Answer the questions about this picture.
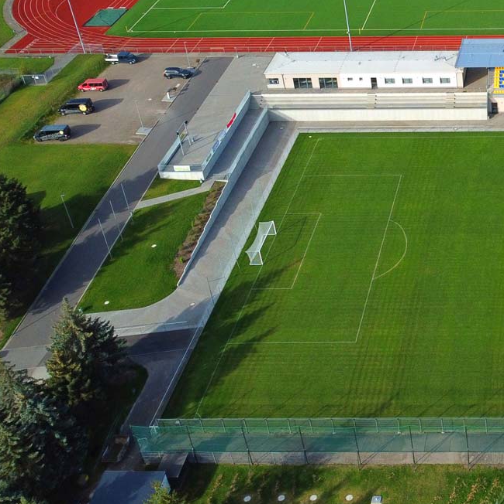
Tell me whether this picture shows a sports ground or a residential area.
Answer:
sports ground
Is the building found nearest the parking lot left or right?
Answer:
right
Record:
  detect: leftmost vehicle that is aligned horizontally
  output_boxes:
[34,125,68,140]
